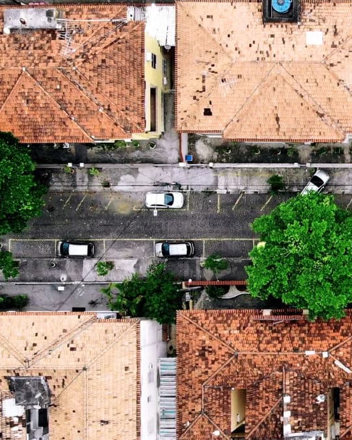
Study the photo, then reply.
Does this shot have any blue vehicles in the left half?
No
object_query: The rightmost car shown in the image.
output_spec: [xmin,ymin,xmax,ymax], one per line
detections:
[300,166,331,197]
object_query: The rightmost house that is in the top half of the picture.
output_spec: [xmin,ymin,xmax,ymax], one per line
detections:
[175,0,352,144]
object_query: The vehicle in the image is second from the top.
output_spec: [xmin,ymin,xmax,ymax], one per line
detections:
[147,193,184,209]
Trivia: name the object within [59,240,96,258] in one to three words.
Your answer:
car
